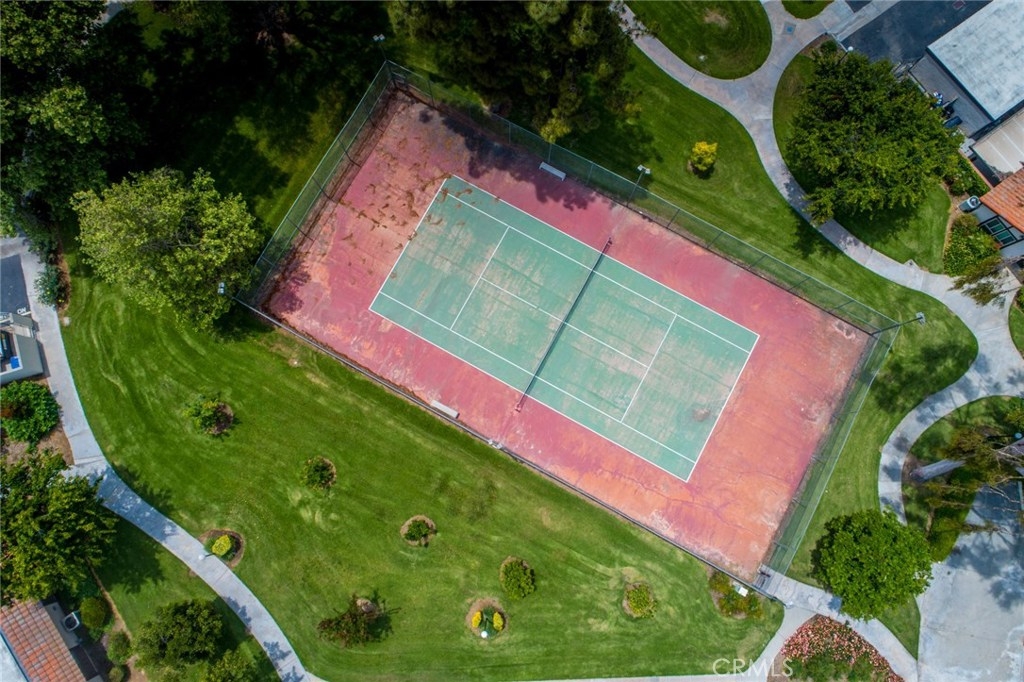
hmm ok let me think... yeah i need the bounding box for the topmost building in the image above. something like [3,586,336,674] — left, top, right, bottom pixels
[914,0,1024,133]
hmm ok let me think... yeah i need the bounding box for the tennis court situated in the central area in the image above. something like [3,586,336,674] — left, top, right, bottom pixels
[257,89,874,586]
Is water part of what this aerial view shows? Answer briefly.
No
